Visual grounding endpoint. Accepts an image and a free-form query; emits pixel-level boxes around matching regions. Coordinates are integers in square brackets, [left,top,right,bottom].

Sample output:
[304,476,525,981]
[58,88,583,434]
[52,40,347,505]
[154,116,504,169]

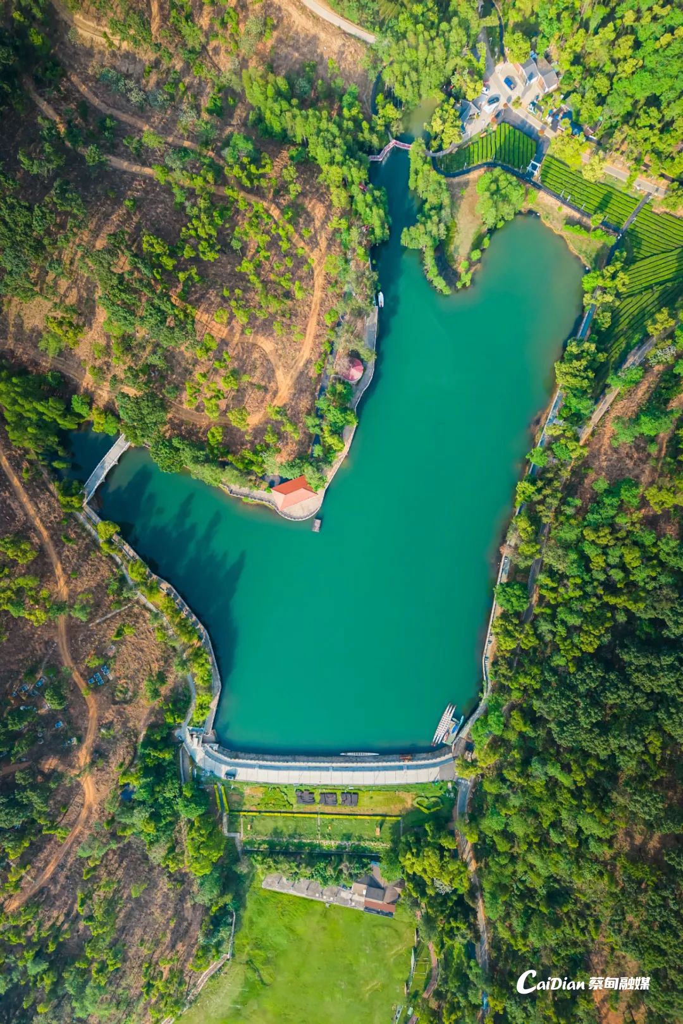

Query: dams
[188,743,455,786]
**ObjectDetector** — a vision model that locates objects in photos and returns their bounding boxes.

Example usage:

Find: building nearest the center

[272,478,317,510]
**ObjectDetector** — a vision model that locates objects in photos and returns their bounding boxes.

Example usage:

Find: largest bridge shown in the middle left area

[82,439,130,496]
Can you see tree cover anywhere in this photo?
Yes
